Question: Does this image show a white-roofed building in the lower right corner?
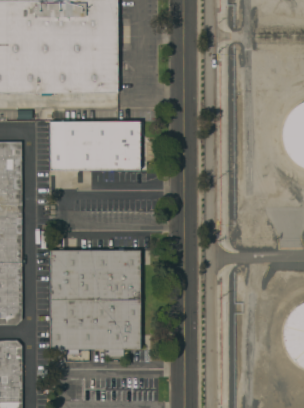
No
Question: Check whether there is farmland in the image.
No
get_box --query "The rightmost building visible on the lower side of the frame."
[49,250,140,358]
